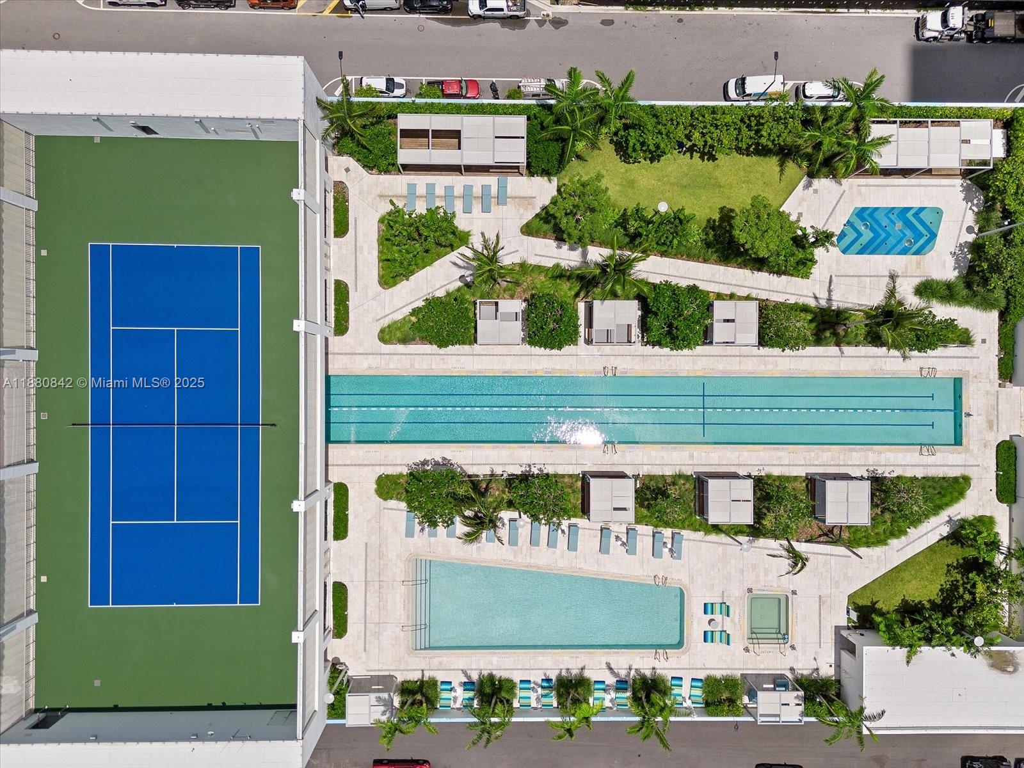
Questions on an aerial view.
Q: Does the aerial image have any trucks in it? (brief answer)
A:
Yes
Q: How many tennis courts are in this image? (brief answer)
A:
1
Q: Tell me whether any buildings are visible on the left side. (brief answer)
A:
Yes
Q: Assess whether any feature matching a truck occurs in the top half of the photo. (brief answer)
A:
Yes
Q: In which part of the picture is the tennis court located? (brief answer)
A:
left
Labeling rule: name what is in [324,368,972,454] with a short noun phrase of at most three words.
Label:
swimming pool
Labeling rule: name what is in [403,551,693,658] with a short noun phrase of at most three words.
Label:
swimming pool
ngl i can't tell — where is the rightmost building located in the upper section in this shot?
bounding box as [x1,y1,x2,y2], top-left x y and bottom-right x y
[846,119,993,181]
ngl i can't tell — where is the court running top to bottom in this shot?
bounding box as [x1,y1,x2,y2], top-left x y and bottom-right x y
[34,136,298,711]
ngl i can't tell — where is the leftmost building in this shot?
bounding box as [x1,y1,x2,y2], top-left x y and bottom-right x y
[0,49,336,768]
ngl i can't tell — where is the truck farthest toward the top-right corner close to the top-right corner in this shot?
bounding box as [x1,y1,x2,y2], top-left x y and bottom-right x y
[916,3,1024,44]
